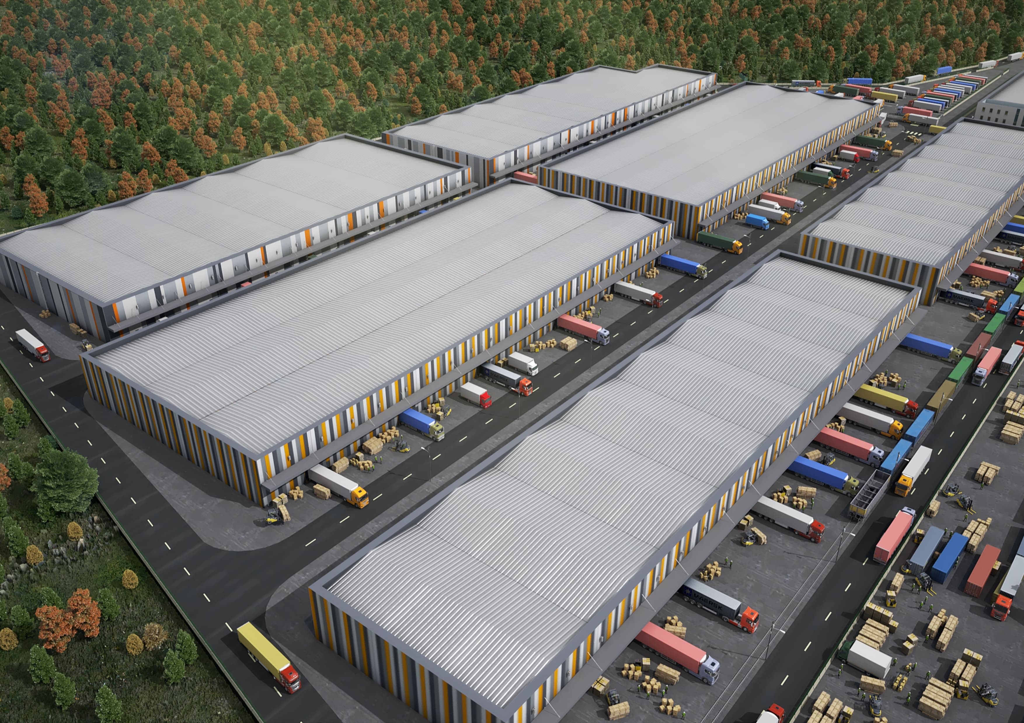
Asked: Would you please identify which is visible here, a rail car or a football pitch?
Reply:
rail car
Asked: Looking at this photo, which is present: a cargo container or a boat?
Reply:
cargo container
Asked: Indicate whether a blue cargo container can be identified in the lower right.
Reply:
Yes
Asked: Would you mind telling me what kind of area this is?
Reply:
industrial area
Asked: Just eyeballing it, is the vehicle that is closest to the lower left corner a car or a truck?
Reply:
truck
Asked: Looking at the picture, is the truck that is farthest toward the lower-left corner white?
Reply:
No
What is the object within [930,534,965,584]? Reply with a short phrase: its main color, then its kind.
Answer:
blue shipping container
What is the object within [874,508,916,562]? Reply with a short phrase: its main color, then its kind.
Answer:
pink truck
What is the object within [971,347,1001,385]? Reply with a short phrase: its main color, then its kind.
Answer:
pink truck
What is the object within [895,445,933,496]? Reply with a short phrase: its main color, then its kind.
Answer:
white truck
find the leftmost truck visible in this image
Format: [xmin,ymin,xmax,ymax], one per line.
[15,328,52,362]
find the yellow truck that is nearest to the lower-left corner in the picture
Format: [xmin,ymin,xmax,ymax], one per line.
[236,621,303,694]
